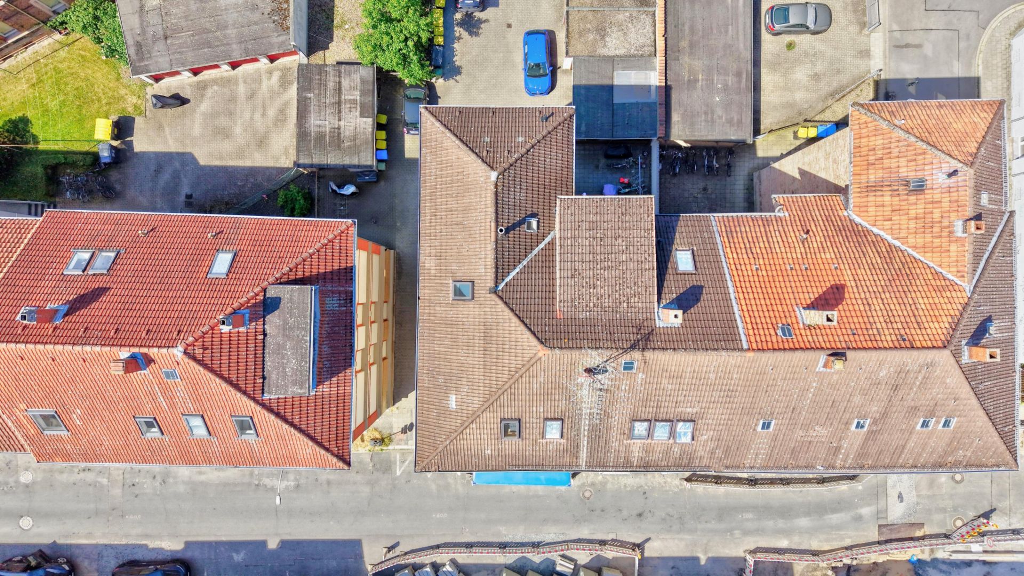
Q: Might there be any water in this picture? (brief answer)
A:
No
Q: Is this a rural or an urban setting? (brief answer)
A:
urban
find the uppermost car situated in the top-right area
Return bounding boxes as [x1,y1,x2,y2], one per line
[768,0,835,35]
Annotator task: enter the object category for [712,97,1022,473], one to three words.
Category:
house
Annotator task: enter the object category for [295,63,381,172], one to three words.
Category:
shed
